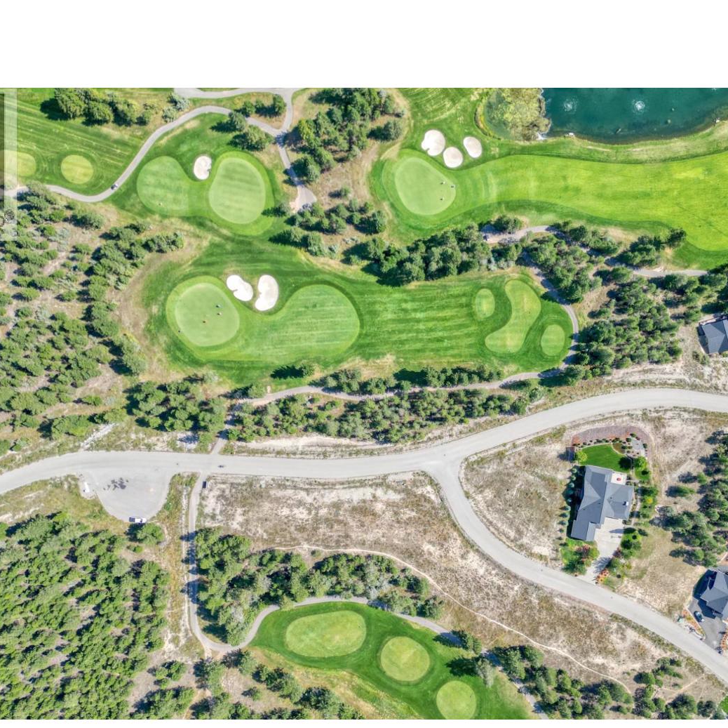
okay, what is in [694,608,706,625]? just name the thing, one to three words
vehicle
